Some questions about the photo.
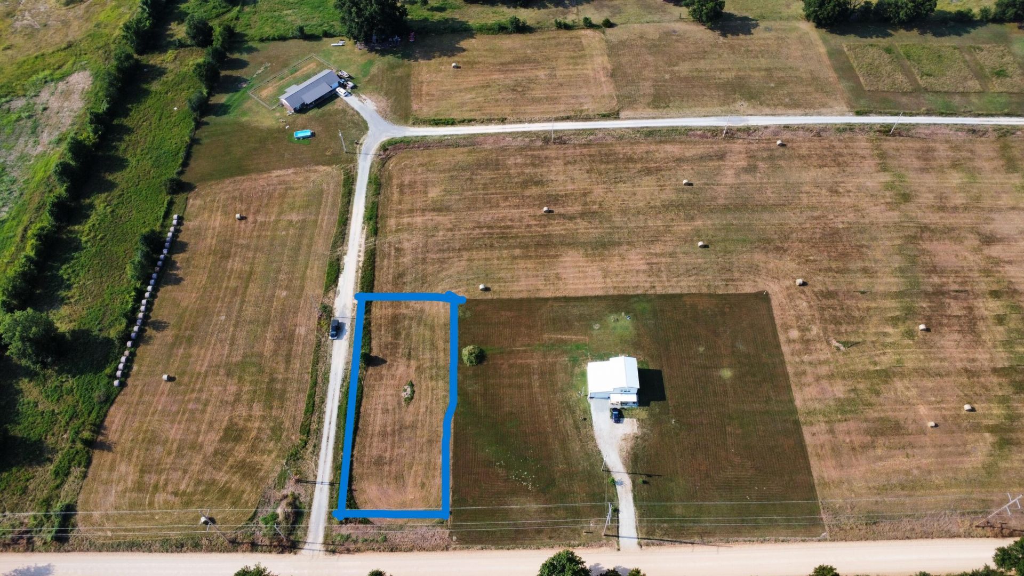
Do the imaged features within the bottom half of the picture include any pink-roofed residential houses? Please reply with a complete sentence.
No, looking within the bottom half of the picture, there is no pink-roofed residential house.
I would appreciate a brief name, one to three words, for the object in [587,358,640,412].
house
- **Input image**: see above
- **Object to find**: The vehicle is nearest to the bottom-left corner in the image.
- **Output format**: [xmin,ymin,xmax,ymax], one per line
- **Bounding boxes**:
[328,319,340,339]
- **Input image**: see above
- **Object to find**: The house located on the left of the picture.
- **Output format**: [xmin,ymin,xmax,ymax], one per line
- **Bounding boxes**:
[279,70,345,113]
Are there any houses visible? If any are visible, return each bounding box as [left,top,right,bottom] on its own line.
[587,358,640,412]
[279,70,345,113]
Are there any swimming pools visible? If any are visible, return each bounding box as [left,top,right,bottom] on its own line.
[294,129,313,142]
